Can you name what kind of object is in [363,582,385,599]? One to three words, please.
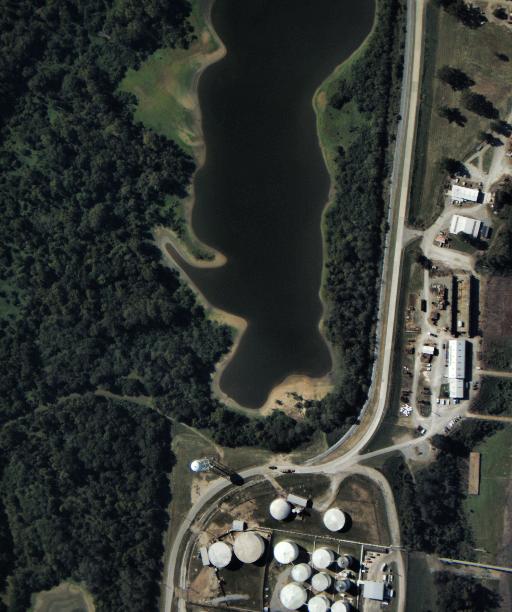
building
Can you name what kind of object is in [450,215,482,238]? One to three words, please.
building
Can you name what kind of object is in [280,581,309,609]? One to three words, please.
storage tank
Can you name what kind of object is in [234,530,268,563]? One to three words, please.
storage tank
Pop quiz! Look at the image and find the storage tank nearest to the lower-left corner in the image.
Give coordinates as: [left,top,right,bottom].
[208,539,236,568]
